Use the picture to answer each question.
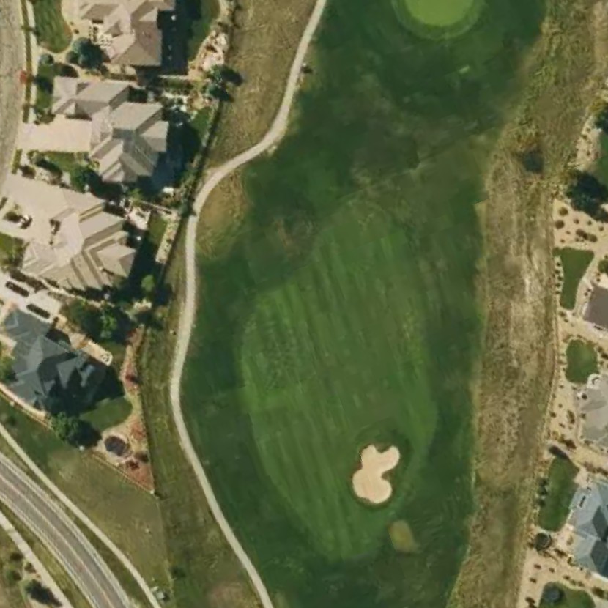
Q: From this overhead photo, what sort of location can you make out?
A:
golf course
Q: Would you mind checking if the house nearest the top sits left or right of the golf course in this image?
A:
on the left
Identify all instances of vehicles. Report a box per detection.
[27,303,46,317]
[7,282,26,295]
